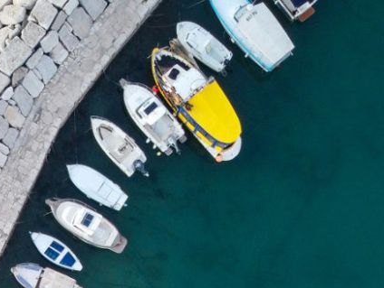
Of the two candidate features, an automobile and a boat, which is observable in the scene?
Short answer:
boat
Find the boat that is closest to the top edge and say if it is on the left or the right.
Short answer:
right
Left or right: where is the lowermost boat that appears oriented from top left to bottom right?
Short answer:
left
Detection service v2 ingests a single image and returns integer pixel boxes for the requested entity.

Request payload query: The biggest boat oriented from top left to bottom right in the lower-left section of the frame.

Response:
[41,195,129,257]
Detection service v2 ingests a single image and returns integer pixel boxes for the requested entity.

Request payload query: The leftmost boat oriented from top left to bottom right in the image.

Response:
[28,231,82,272]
